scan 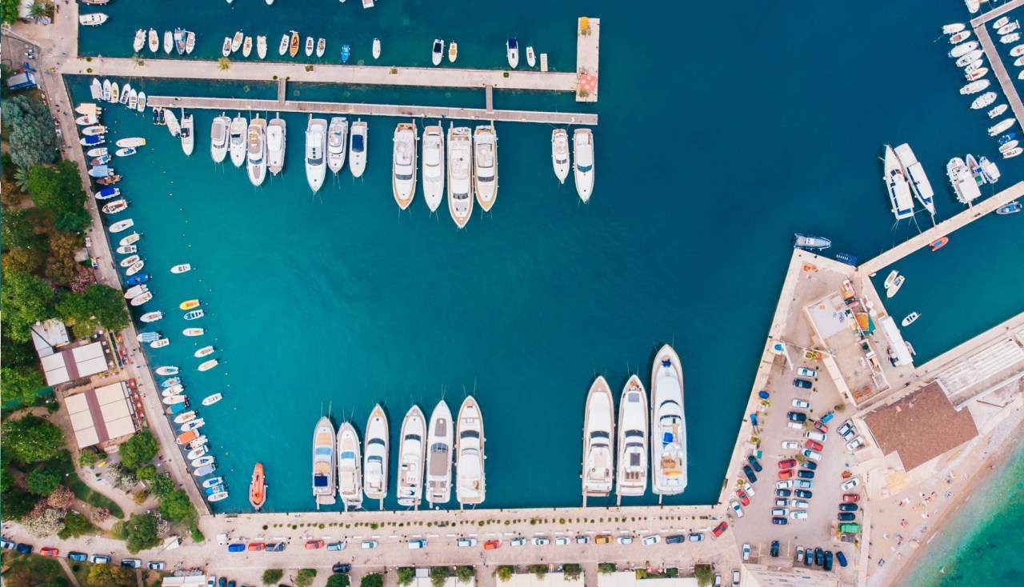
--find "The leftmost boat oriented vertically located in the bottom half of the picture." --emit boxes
[249,463,268,512]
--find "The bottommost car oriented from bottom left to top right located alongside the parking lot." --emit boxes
[710,521,730,538]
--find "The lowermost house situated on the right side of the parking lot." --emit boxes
[860,380,980,472]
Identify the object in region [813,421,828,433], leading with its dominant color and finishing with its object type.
red vehicle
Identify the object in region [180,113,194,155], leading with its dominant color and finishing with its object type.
white boat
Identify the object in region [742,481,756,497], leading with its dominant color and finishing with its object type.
white car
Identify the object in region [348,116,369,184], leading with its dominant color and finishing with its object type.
white boat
